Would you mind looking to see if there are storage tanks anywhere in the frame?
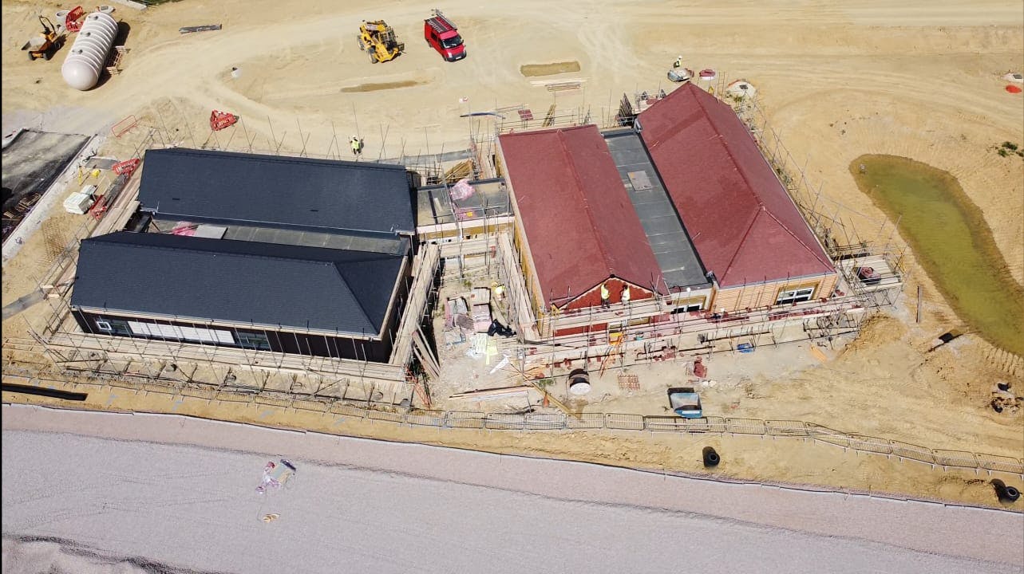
Yes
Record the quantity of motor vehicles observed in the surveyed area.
3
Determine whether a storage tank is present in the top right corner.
No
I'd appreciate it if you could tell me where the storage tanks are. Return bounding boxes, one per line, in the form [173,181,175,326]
[61,12,121,88]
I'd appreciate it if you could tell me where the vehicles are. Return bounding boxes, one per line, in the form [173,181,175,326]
[422,13,467,62]
[357,21,398,69]
[25,20,60,61]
